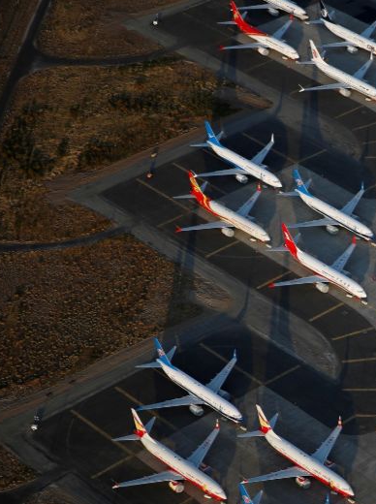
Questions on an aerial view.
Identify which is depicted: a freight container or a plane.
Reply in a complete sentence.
I can see a plane in this picture.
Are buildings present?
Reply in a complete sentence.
No, there is no building in the image.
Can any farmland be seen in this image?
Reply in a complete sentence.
No, no farmland is visible.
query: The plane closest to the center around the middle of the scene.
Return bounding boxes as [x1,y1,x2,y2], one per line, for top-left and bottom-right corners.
[174,172,270,242]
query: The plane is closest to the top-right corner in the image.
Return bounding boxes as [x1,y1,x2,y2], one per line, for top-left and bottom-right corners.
[309,2,376,56]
